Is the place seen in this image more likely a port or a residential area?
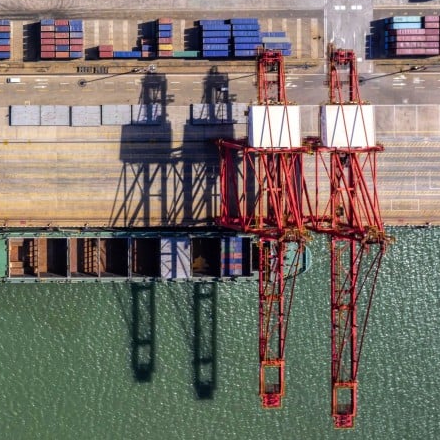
port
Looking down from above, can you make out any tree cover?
No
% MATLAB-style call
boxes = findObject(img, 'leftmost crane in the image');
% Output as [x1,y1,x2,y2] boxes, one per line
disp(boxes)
[202,47,313,409]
